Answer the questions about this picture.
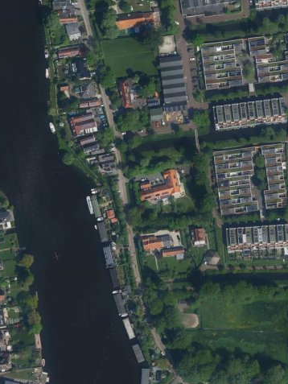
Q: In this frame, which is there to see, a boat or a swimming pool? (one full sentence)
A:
The one in the frame is a boat.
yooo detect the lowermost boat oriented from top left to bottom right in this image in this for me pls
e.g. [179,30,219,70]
[130,344,147,365]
